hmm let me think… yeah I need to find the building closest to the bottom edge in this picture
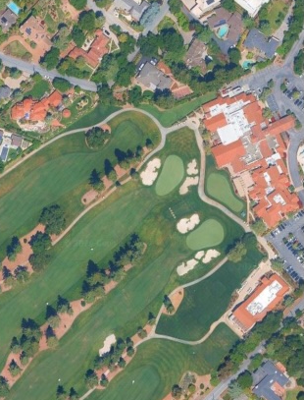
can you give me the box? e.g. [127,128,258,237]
[249,358,289,400]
